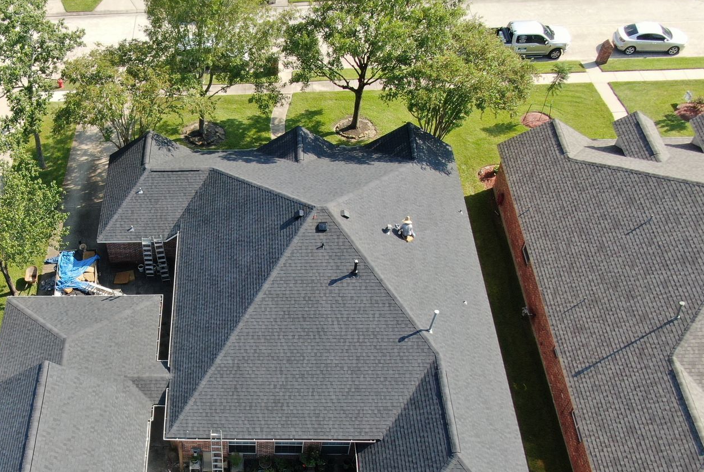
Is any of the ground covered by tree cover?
Yes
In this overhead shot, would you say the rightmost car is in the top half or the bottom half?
top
